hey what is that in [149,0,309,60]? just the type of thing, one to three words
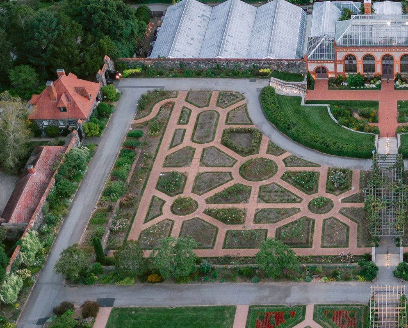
greenhouse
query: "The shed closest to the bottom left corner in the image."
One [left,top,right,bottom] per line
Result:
[0,146,64,238]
